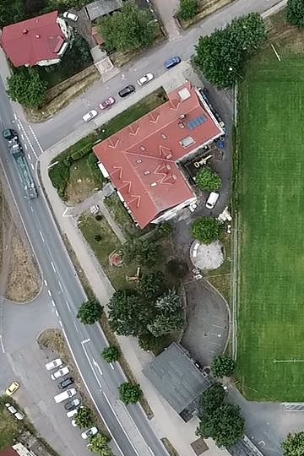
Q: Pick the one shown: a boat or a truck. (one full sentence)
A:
It is a truck that can be seen here.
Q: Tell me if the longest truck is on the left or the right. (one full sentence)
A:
It is on the left.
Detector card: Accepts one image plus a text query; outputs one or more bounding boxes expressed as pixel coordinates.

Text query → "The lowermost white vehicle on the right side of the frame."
[206,191,220,209]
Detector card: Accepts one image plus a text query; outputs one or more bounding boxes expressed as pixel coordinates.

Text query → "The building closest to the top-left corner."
[1,11,76,68]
